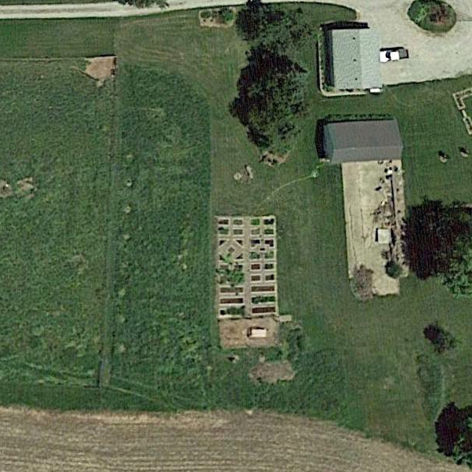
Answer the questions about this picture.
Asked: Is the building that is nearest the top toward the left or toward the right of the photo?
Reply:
right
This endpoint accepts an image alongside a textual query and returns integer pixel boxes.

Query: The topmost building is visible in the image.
[325,29,381,90]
